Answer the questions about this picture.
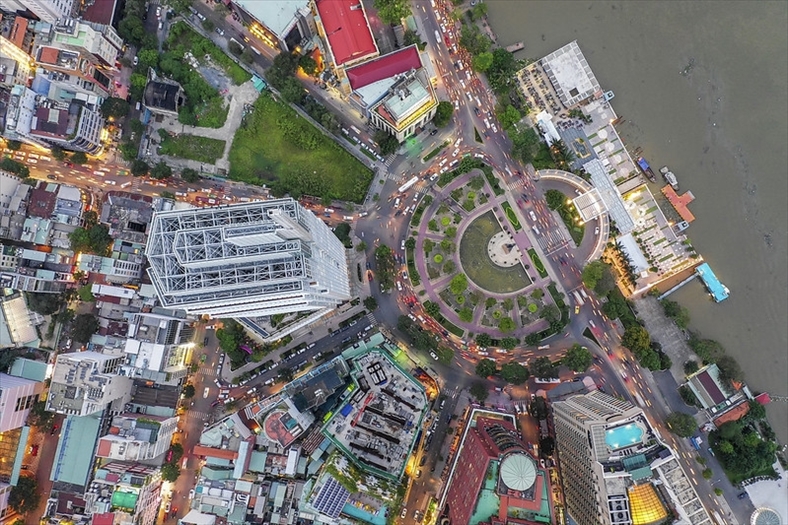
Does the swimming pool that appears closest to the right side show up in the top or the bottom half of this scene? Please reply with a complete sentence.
The bottom half of the photo is where the swimming pool that appears closest to the right side is.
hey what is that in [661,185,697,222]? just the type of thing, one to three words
pier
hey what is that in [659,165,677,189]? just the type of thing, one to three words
boat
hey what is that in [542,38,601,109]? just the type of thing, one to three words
building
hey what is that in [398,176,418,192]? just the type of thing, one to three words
vehicle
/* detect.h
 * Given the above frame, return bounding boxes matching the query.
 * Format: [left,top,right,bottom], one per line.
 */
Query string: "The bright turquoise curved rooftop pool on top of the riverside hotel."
[603,420,646,451]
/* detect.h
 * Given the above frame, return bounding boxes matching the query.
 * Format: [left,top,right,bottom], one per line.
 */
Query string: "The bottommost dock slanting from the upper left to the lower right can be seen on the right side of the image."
[693,262,730,303]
